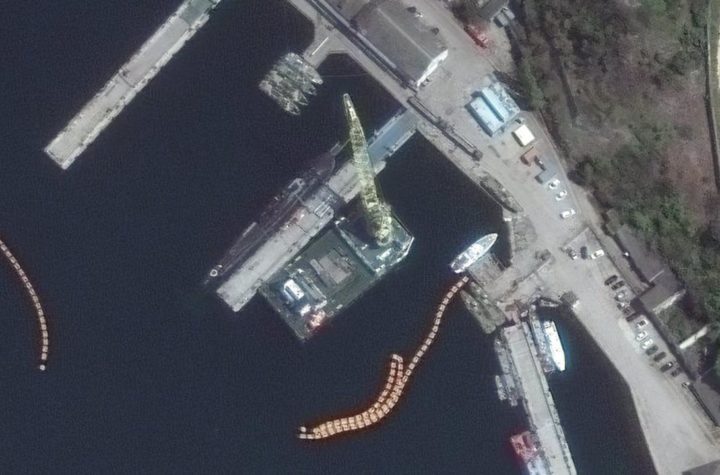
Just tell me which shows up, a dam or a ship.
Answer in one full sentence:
Looking from above, you can make out a ship.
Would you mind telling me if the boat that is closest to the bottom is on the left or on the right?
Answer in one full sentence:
The boat that is closest to the bottom sits on the right side.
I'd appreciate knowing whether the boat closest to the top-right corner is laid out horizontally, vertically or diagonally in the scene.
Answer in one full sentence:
The boat closest to the top-right corner runs diagonally in the image.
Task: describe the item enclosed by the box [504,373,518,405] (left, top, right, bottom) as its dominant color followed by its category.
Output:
gray vessel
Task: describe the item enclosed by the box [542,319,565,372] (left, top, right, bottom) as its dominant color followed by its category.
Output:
white vessel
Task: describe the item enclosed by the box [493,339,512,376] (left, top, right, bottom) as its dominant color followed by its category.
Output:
gray boat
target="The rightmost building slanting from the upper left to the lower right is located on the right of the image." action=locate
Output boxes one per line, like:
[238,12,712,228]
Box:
[615,222,672,286]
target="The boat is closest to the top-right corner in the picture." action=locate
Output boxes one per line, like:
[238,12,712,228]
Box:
[477,173,524,212]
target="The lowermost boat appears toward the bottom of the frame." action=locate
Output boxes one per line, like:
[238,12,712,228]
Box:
[511,431,550,475]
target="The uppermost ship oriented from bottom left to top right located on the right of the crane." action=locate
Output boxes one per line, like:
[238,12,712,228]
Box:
[449,235,497,273]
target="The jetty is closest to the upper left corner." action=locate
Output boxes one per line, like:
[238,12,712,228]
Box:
[45,0,221,169]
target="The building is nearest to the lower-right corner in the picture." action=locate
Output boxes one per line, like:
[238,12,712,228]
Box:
[638,269,686,309]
